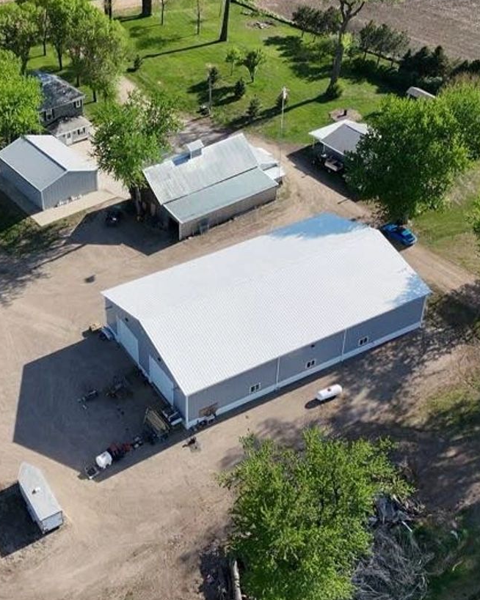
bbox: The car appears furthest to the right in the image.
[380,222,418,243]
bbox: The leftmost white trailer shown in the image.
[17,463,65,539]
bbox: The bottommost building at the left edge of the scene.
[0,135,100,211]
